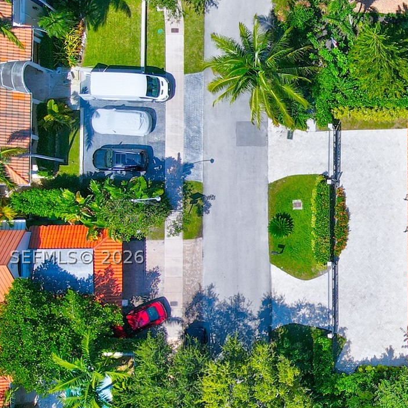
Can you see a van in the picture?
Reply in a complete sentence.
Yes, this view includes a van.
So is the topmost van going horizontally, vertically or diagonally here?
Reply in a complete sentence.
In this picture, the topmost van lies horizontally.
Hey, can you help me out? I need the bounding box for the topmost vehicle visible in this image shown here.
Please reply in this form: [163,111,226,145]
[80,64,169,98]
